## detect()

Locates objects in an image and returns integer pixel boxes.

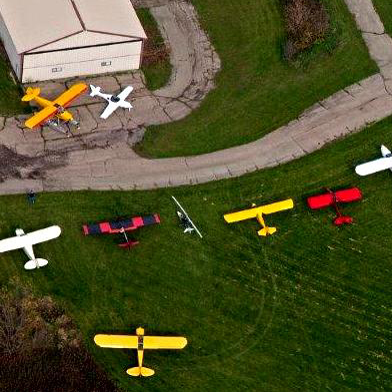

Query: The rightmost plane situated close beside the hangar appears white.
[86,81,136,117]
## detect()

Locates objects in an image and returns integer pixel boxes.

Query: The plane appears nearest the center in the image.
[223,201,295,235]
